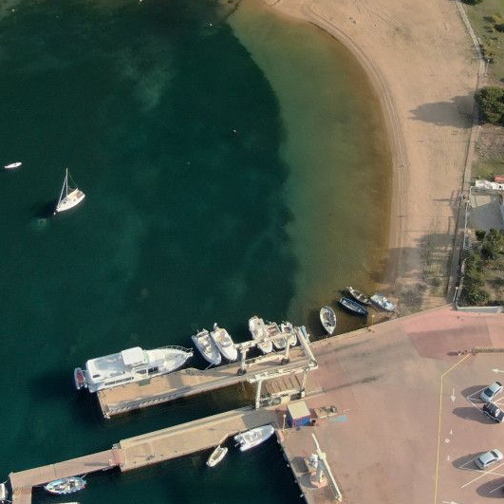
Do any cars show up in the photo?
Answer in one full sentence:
Yes, the picture does show a car.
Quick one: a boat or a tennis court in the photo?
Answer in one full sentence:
It is a boat that can be seen here.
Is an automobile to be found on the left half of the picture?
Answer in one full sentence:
No, the scene shows no automobile on the left half of the picture.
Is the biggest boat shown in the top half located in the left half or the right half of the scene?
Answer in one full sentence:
You can find the biggest boat shown in the top half on the left side of the picture.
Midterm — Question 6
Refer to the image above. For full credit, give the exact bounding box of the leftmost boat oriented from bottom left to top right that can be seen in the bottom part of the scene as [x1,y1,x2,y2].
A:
[205,448,225,468]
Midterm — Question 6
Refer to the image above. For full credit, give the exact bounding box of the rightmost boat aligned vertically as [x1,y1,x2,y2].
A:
[321,306,336,335]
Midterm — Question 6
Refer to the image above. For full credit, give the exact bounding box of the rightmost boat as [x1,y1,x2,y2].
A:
[370,293,395,309]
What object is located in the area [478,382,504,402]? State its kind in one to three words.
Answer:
car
